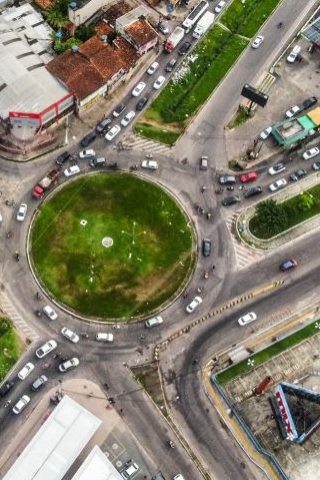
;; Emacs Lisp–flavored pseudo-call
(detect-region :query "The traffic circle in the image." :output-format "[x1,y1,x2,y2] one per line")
[30,172,196,323]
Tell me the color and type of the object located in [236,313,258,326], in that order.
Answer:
white vehicle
